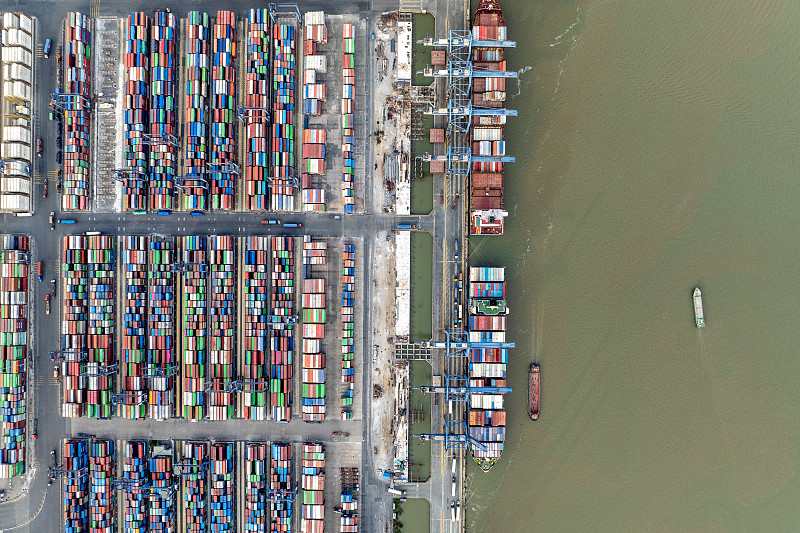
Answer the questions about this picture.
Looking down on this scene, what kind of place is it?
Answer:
port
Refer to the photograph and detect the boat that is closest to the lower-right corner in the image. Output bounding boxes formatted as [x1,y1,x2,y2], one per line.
[691,288,705,327]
